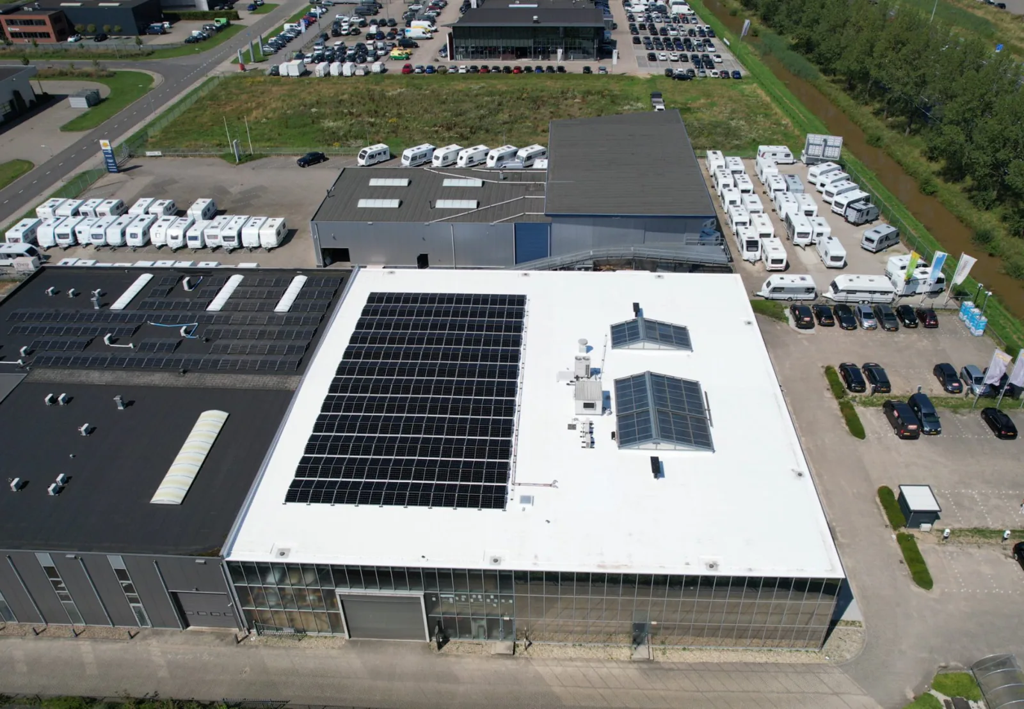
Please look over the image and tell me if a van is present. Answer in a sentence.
Yes, there's a van here.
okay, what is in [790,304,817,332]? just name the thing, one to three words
vehicle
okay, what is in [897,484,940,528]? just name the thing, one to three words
shed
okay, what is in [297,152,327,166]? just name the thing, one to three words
car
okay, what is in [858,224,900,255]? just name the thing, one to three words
camper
